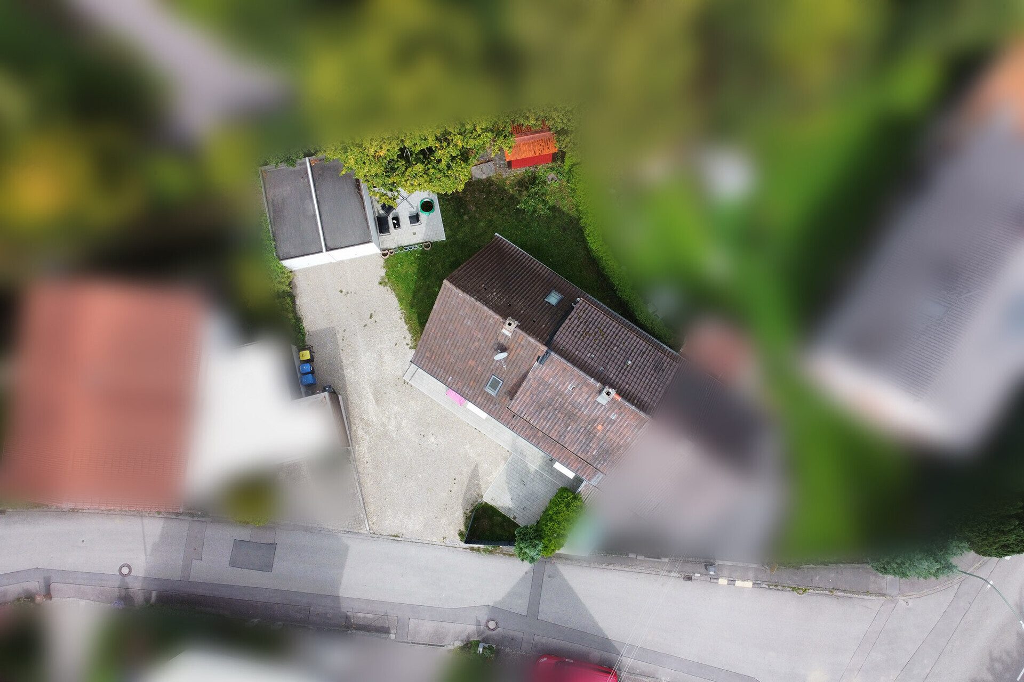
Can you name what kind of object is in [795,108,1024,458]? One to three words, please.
house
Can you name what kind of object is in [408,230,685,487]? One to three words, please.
house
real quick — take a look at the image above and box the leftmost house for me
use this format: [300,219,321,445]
[5,274,228,513]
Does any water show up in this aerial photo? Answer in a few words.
No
